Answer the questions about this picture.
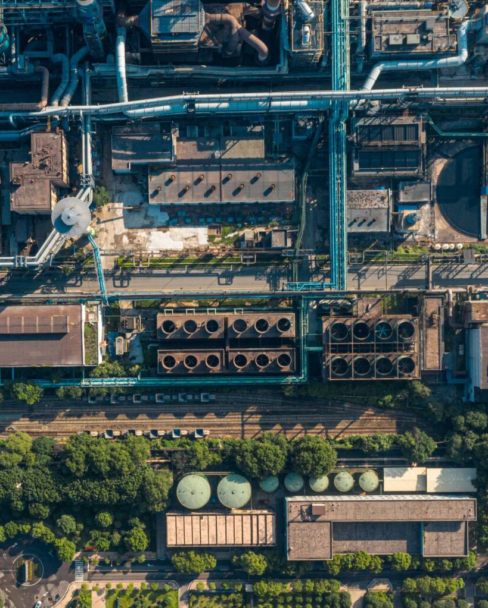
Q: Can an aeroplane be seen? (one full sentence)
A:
No, there appears to be no aeroplane in this shot.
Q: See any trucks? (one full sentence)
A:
No, there is no truck in the image.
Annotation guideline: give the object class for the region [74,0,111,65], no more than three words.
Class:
chimney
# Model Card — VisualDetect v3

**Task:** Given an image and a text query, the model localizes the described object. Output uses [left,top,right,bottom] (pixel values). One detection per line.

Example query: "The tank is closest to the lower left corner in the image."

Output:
[177,471,211,509]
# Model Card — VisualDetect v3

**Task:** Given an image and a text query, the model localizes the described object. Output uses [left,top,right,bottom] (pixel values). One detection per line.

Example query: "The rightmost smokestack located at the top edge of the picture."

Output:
[254,0,284,40]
